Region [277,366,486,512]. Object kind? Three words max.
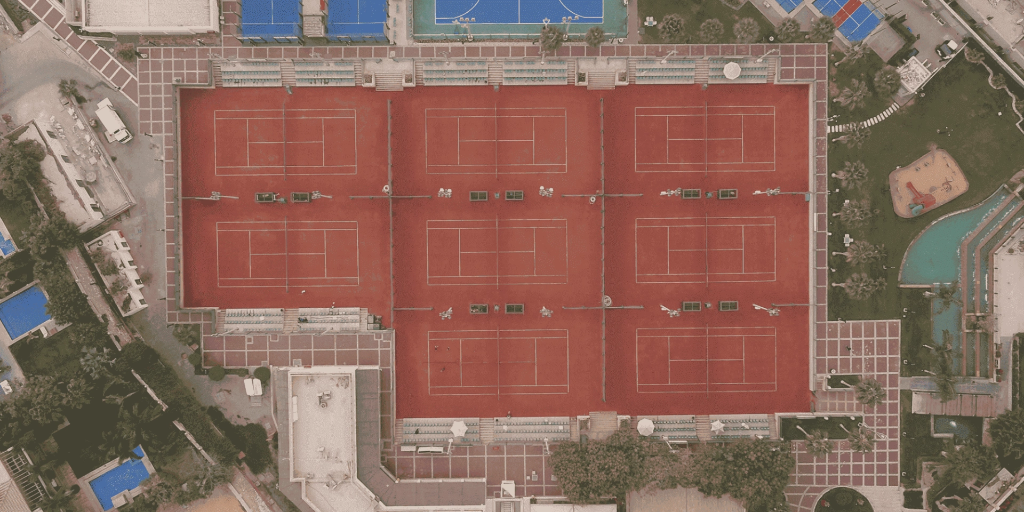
building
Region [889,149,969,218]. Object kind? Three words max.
playground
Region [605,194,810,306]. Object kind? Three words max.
tennis court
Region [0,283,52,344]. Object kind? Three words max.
swimming pool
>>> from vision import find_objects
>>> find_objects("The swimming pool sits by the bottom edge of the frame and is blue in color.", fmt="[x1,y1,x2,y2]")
[84,441,153,512]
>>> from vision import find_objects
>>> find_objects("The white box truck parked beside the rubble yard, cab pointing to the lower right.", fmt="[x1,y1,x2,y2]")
[87,93,127,140]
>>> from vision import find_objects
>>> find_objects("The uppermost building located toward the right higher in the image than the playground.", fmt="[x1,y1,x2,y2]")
[864,22,903,62]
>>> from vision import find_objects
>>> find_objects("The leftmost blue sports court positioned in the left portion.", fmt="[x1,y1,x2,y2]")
[234,0,301,38]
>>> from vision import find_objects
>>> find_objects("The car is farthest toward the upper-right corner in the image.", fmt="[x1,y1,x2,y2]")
[934,35,965,60]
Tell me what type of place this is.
sports ground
